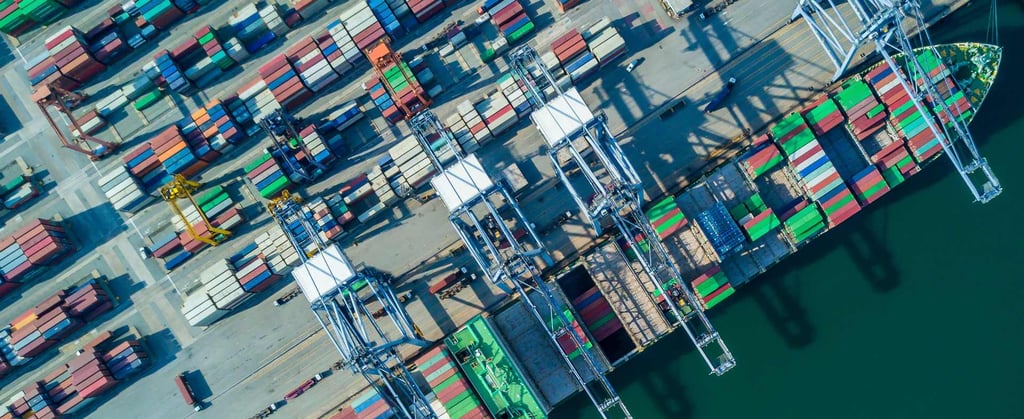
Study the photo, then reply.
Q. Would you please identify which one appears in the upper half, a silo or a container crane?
container crane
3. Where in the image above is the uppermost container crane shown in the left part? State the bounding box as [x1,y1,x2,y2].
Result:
[363,38,433,117]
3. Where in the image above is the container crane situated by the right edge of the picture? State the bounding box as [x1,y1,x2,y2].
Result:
[782,0,1004,202]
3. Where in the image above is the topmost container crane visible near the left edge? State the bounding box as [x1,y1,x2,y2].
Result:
[27,83,117,161]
